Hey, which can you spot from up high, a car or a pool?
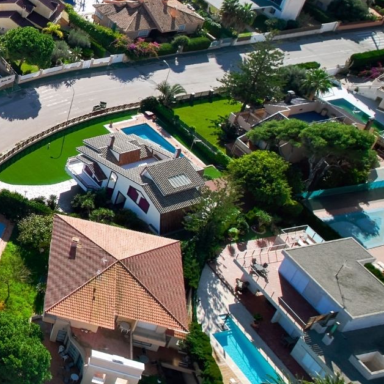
pool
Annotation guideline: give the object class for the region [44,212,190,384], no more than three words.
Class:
house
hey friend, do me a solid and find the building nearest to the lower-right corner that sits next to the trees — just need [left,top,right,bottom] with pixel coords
[228,236,384,384]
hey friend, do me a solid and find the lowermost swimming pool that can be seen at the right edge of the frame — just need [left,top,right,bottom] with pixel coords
[320,206,384,250]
